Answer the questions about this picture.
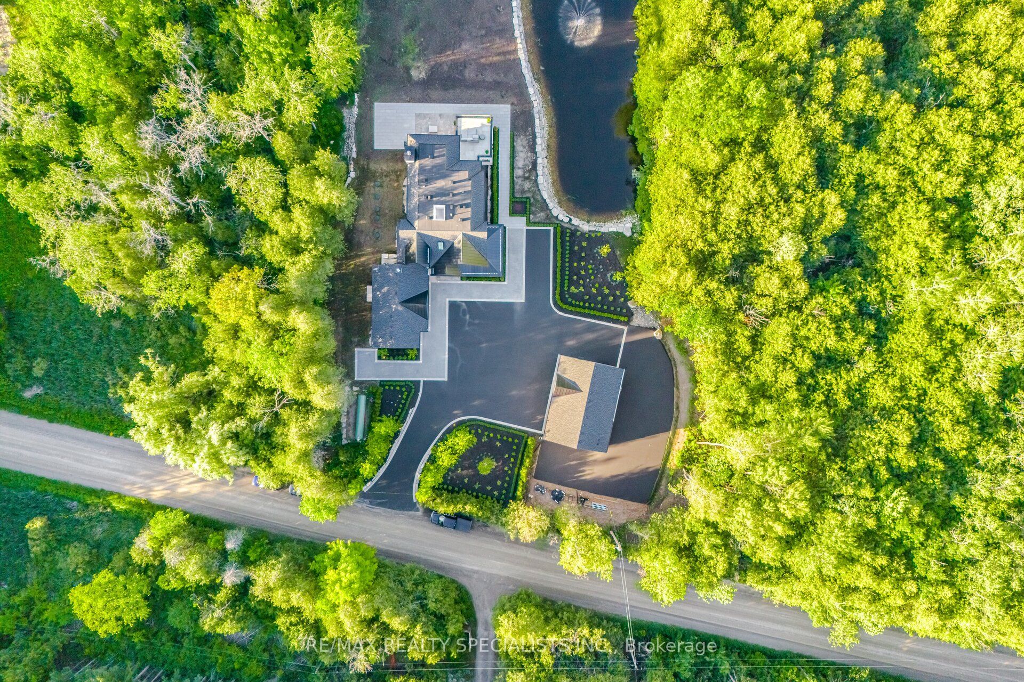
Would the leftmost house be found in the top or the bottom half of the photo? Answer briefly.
top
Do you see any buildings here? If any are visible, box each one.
[371,115,504,348]
[543,355,625,453]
